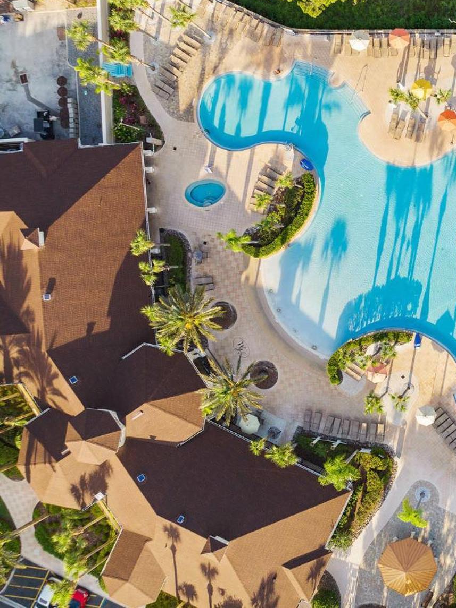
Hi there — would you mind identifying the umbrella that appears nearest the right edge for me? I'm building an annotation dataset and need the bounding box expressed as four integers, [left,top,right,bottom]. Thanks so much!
[438,110,456,130]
